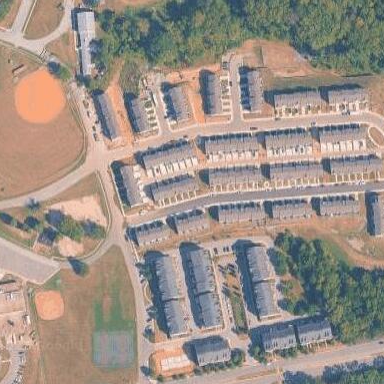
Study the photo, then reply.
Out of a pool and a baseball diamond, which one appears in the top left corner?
baseball diamond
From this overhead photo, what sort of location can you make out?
residential area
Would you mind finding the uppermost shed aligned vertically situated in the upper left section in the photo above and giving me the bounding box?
[77,11,95,75]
